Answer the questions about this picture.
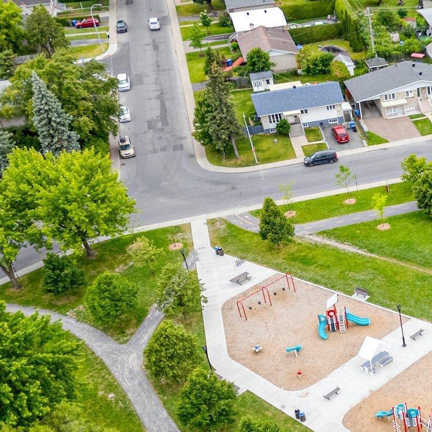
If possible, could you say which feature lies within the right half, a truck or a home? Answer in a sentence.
What appears within the right half is a home.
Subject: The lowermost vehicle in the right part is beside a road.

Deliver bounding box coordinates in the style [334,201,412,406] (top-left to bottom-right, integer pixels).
[303,146,338,166]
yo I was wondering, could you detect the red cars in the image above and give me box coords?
[77,15,98,27]
[333,127,349,141]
